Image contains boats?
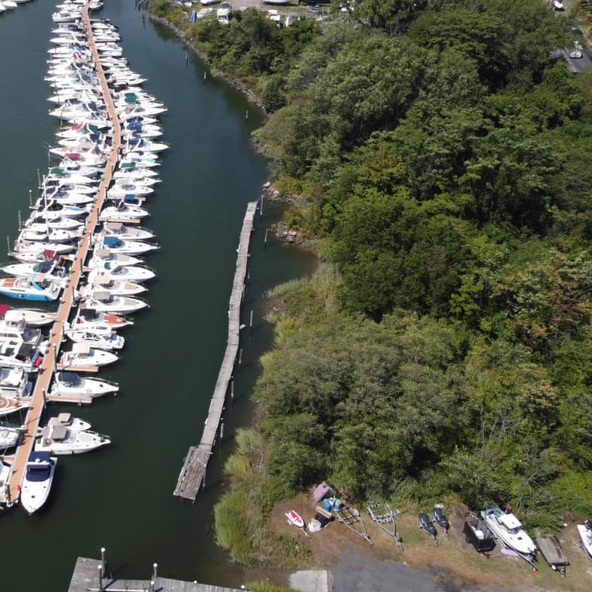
Yes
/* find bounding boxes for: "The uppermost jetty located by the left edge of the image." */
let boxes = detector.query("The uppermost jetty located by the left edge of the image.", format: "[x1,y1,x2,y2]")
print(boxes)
[0,0,144,504]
